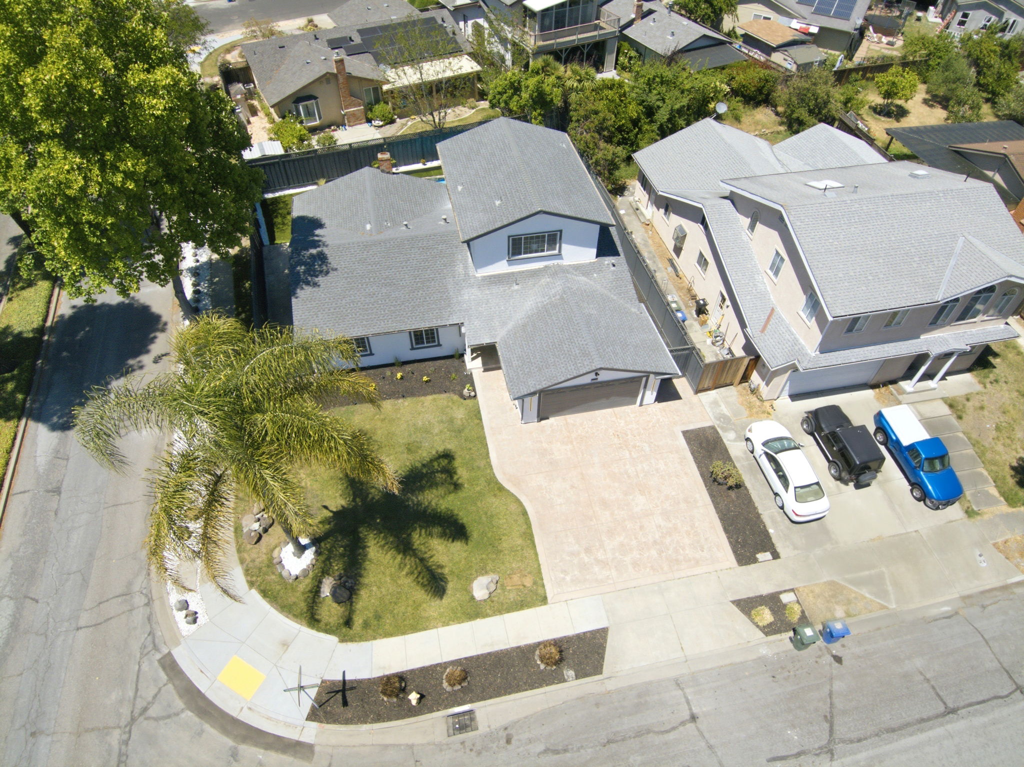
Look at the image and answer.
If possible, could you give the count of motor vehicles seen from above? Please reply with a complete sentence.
The picture shows 3 motor vehicles.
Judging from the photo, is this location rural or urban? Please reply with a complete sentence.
The area shown here is urban.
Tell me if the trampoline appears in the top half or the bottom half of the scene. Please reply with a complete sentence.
The top half of the photo is where the trampoline is.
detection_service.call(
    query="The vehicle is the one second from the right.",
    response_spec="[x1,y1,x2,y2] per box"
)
[803,403,899,484]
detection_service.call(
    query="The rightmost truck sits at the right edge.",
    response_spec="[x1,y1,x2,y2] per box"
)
[876,402,977,513]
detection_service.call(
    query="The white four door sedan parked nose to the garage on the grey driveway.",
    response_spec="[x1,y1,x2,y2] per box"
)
[752,423,844,531]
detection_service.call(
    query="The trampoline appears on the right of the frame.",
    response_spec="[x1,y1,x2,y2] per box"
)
[862,0,919,33]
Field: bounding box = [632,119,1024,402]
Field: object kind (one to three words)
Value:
house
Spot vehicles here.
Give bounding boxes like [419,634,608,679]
[752,423,844,531]
[876,402,977,513]
[803,403,899,484]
